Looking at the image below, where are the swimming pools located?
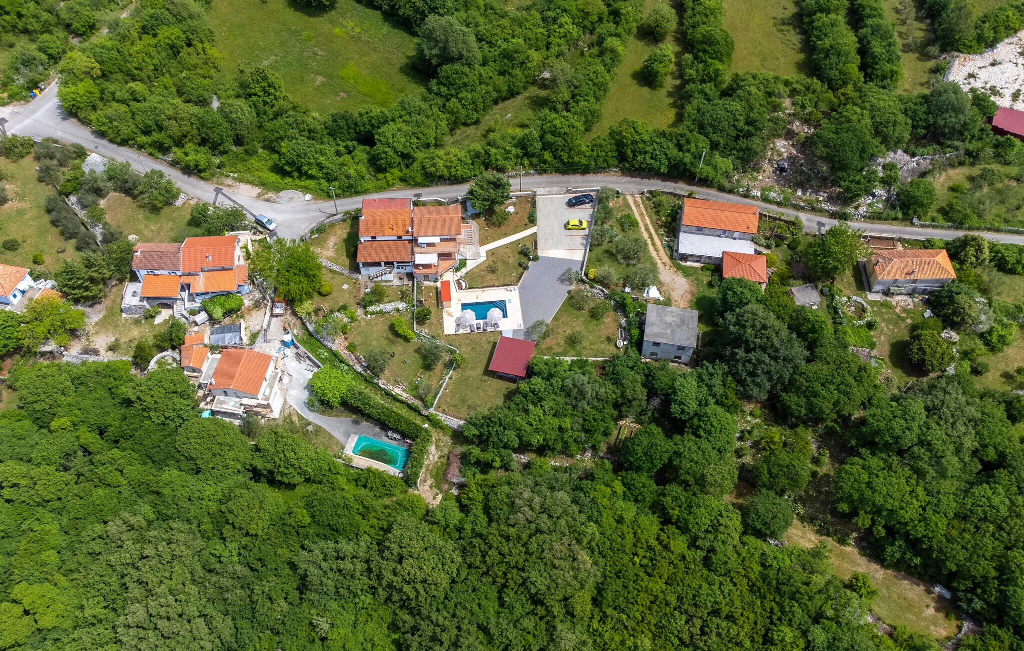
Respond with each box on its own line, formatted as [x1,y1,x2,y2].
[441,270,523,335]
[343,433,414,479]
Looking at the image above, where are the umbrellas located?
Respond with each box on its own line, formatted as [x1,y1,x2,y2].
[487,309,503,331]
[459,311,476,333]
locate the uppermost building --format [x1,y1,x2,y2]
[988,107,1024,147]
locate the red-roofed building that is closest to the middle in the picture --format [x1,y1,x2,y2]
[489,336,536,382]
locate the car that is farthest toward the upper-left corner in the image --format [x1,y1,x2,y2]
[251,212,277,233]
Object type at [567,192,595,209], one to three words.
car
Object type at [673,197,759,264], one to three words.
house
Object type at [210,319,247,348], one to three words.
shed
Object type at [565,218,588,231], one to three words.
vehicle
